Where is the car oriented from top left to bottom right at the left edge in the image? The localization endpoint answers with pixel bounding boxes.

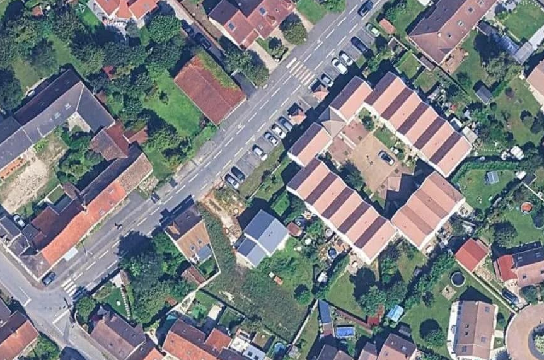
[13,213,26,229]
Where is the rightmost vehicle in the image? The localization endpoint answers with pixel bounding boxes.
[503,290,516,304]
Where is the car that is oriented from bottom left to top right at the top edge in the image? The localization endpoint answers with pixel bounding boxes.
[358,1,373,15]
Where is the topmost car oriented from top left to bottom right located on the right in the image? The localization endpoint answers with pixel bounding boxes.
[366,23,380,36]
